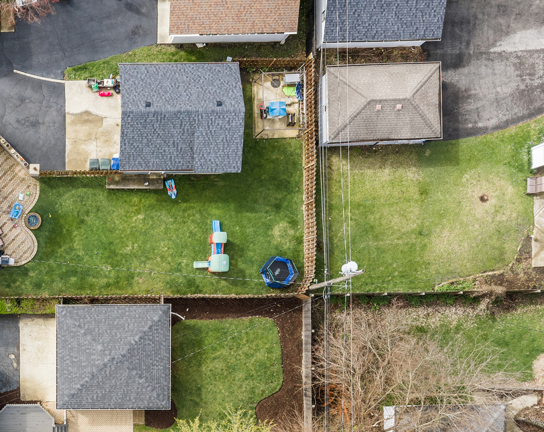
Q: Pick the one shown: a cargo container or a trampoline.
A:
trampoline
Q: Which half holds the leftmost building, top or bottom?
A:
bottom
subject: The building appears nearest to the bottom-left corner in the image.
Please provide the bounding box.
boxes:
[56,304,172,410]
